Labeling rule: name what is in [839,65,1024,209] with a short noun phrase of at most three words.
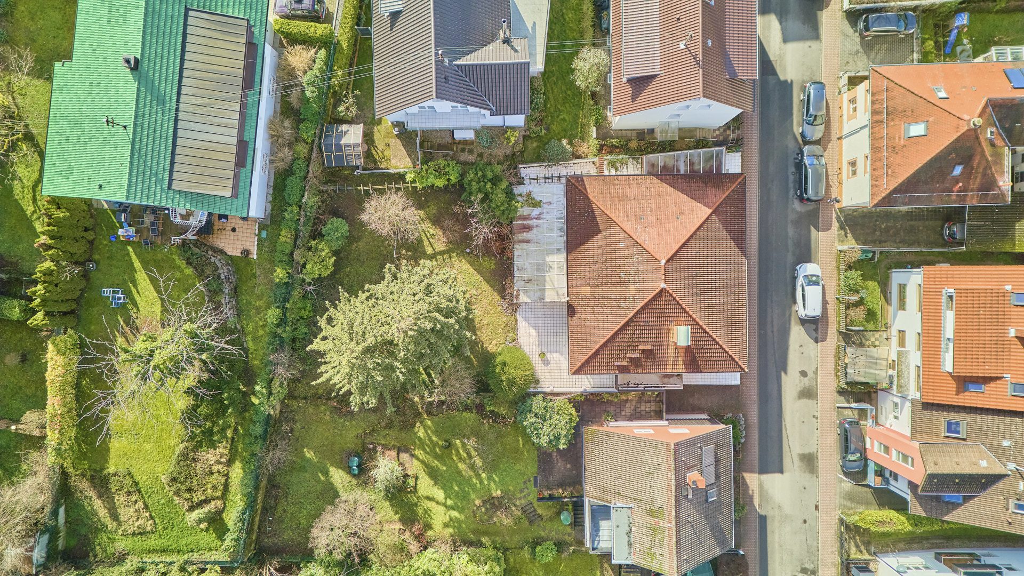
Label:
house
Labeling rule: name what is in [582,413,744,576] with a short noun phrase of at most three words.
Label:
house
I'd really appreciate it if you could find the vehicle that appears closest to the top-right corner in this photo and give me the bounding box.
[857,11,915,41]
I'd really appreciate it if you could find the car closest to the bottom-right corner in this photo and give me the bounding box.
[836,417,867,473]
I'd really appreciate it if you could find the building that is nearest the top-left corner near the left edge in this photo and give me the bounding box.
[41,0,289,217]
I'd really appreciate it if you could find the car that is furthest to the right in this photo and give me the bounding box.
[937,222,964,242]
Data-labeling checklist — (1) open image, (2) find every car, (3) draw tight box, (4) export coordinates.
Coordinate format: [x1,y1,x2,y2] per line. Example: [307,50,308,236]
[799,83,829,142]
[285,0,327,19]
[798,146,828,204]
[937,222,964,242]
[794,263,824,319]
[836,417,867,473]
[857,11,915,41]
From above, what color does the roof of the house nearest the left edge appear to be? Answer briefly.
green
